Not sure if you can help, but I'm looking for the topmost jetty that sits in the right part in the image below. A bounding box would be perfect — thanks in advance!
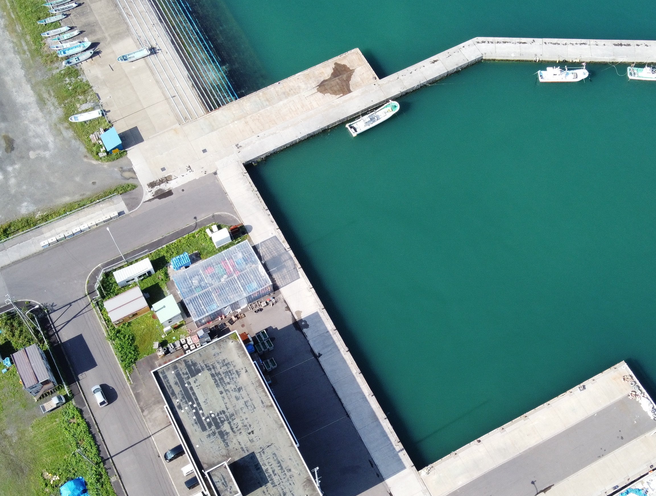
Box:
[219,38,656,171]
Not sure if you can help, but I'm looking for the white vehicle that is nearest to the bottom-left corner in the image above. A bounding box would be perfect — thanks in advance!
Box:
[41,394,64,411]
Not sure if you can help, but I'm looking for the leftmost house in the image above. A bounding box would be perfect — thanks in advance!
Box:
[12,344,62,407]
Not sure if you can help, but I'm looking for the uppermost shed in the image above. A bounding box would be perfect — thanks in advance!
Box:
[98,126,127,158]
